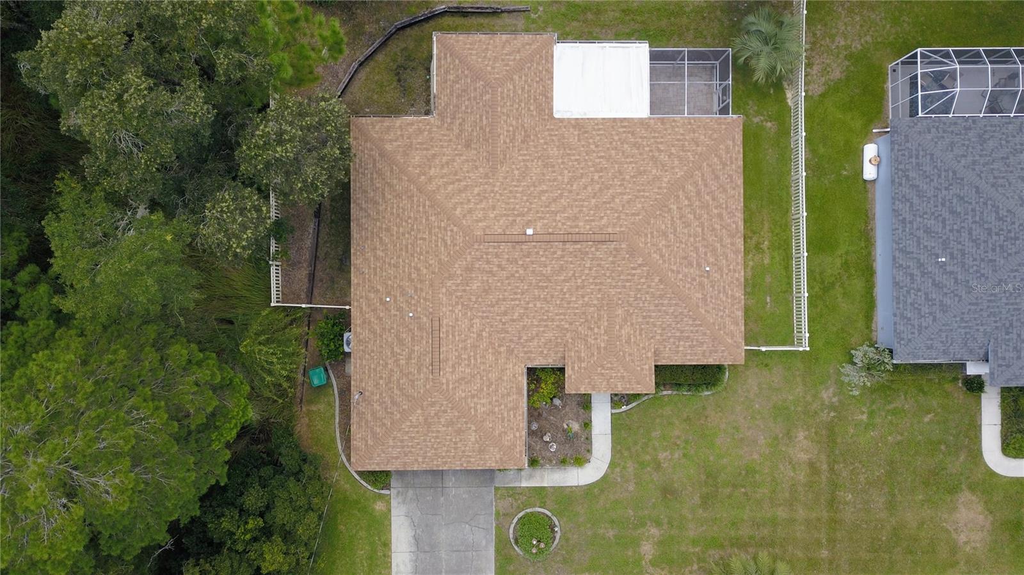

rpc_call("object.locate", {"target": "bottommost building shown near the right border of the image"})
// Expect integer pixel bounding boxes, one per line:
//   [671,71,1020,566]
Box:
[875,117,1024,387]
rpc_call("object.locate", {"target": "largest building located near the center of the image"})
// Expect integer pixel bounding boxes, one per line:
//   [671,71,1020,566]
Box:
[351,30,744,471]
